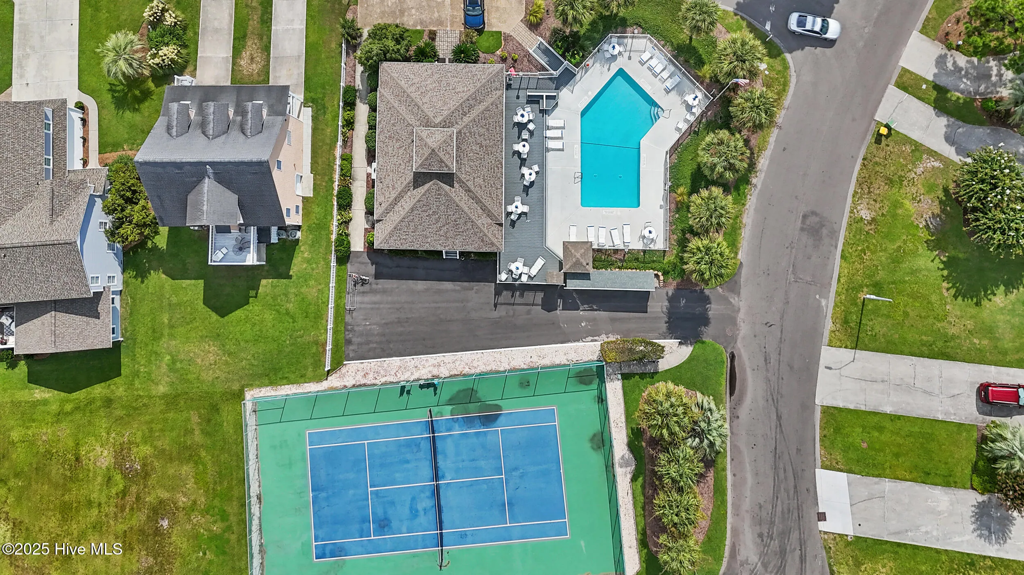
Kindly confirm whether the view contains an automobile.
Yes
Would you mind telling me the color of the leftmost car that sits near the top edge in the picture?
blue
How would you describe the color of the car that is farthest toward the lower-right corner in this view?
red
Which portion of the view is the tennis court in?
bottom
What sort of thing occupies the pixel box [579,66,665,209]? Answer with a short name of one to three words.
swimming pool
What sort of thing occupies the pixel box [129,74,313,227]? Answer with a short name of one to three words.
house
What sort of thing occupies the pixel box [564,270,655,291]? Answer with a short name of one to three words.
shed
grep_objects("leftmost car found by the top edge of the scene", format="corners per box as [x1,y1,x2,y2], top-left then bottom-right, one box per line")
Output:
[463,0,486,29]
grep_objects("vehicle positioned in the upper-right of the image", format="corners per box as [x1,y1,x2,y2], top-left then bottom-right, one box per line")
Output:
[786,14,840,42]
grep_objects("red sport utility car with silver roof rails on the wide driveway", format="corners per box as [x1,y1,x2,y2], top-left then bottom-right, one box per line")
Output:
[976,382,1024,409]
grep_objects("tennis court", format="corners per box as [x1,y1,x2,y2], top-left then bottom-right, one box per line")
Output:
[248,364,626,575]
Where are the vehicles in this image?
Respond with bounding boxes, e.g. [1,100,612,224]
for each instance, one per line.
[976,382,1024,409]
[463,0,486,29]
[786,14,840,42]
